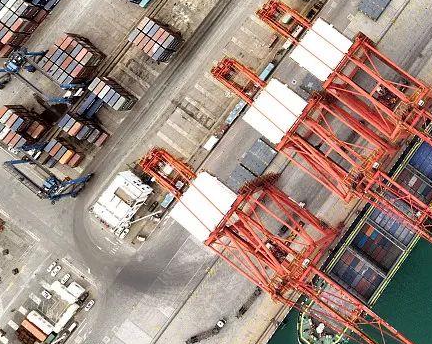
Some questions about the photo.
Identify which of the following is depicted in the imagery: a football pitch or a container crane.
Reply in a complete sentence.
The one in the frame is a container crane.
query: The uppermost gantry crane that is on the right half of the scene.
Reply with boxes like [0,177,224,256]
[254,0,432,148]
